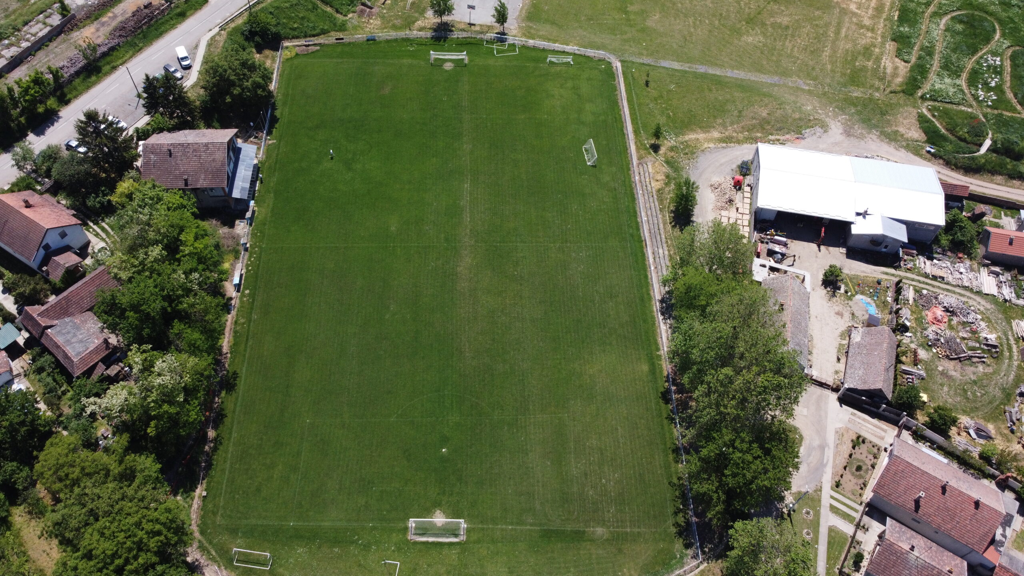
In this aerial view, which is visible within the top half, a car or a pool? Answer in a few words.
car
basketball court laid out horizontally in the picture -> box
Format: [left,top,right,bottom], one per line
[428,0,520,28]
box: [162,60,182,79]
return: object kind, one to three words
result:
car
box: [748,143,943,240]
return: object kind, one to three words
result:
building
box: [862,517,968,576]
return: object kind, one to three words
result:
house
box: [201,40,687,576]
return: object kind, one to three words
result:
soccer field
